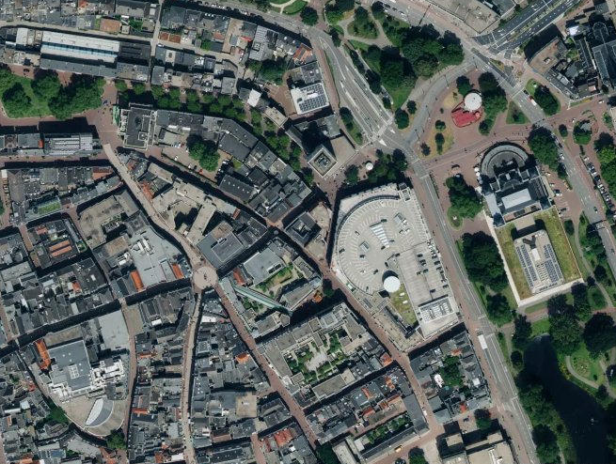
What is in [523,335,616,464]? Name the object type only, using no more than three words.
pond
